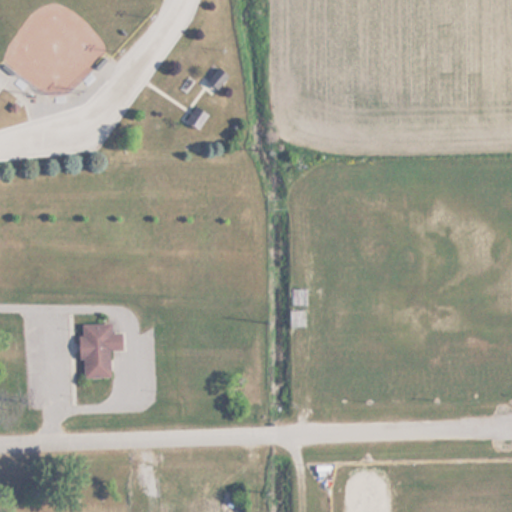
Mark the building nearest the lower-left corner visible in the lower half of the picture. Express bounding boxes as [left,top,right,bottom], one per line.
[80,325,124,380]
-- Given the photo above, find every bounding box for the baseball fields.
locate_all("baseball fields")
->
[0,0,162,94]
